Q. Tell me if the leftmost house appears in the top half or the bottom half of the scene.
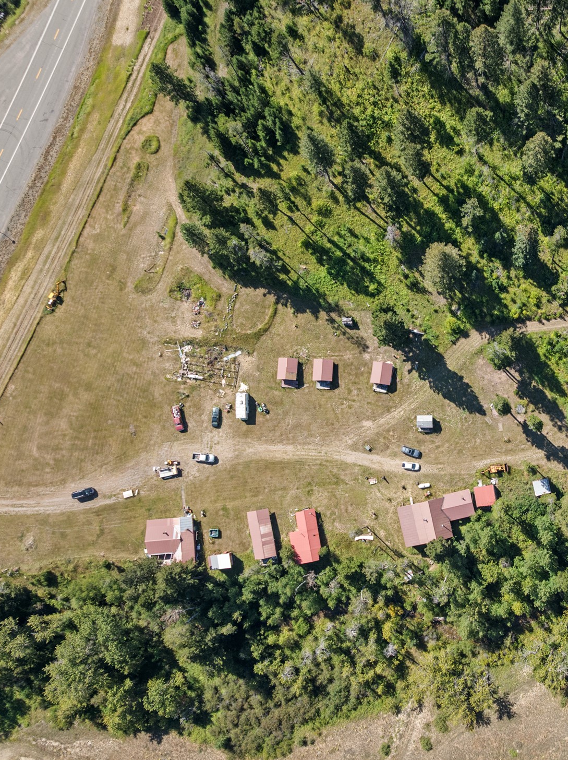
bottom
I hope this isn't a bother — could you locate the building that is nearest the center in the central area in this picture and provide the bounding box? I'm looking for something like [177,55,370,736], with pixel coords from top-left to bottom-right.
[278,358,300,388]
